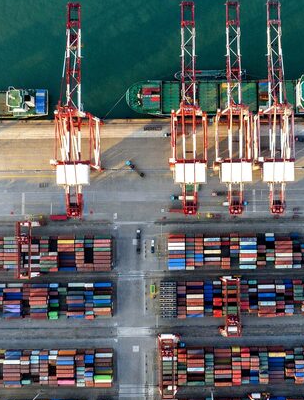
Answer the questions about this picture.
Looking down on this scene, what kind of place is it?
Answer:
port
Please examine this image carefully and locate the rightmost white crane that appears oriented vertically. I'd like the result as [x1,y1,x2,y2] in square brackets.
[251,0,295,214]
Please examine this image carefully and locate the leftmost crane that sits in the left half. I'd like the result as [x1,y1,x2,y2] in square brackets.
[17,223,48,278]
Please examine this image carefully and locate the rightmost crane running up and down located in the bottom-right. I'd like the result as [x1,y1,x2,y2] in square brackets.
[219,276,245,339]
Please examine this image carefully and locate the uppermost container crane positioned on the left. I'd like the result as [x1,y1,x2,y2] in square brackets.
[49,2,105,216]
